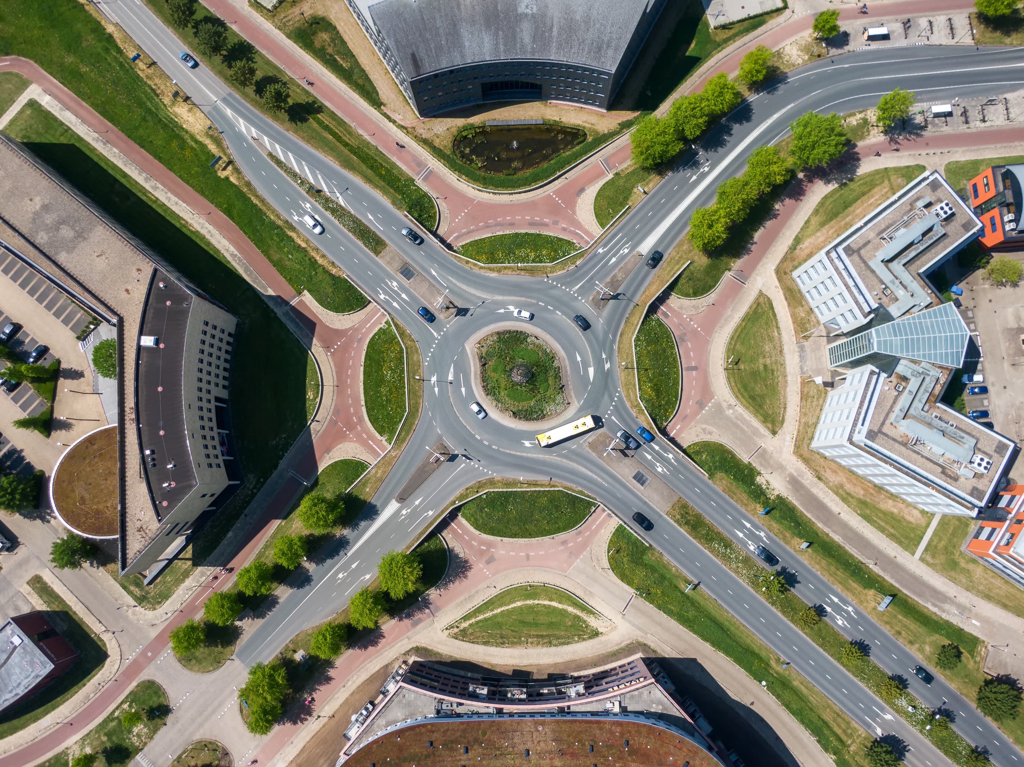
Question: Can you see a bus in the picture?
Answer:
Yes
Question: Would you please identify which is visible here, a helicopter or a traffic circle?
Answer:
traffic circle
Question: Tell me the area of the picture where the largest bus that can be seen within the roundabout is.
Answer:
center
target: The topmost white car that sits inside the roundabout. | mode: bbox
[512,308,534,322]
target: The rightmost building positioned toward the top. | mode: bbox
[971,162,1024,251]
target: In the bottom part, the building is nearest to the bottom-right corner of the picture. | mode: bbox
[966,464,1024,589]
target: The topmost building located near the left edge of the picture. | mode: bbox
[0,132,241,586]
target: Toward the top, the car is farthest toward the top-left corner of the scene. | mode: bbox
[180,50,197,69]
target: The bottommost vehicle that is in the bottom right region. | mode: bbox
[912,664,936,686]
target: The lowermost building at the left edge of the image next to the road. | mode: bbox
[0,611,81,721]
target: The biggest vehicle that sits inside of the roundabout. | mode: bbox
[535,411,598,446]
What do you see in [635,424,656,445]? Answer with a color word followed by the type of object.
blue car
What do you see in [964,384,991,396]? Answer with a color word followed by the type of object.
blue vehicle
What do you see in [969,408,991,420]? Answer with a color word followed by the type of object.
blue vehicle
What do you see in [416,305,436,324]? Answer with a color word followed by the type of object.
blue car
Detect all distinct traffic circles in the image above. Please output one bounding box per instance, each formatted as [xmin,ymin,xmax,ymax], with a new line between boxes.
[418,277,625,484]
